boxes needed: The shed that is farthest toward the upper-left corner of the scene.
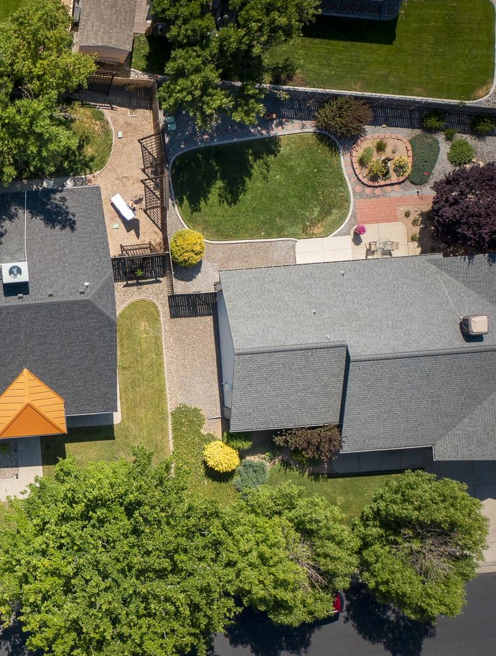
[79,0,138,67]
